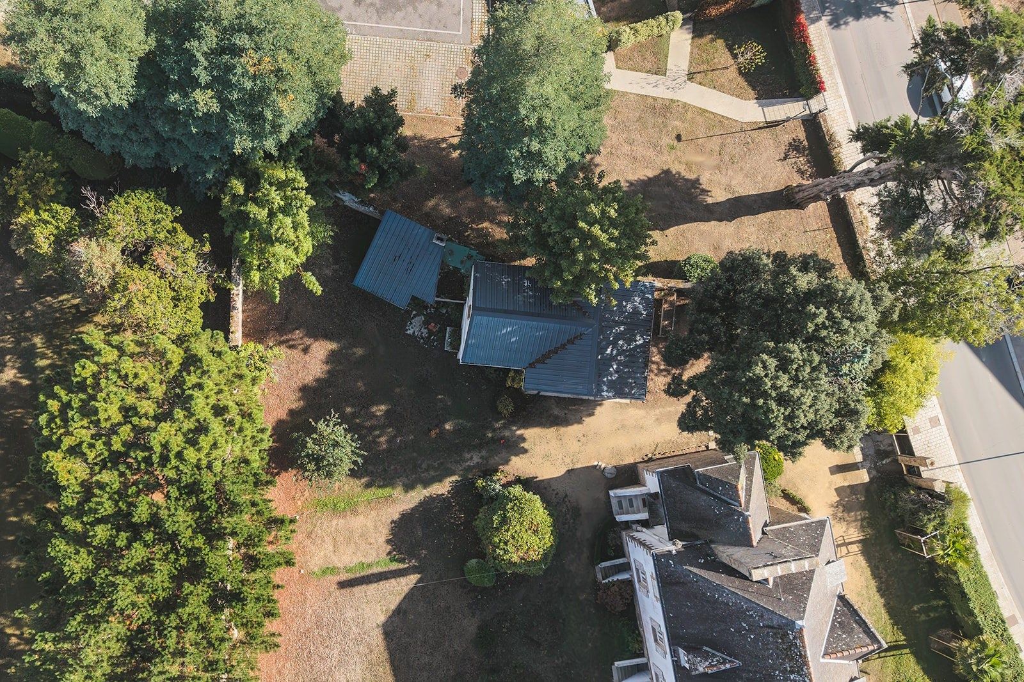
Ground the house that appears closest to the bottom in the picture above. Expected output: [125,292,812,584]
[589,448,889,682]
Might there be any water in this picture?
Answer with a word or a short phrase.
No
